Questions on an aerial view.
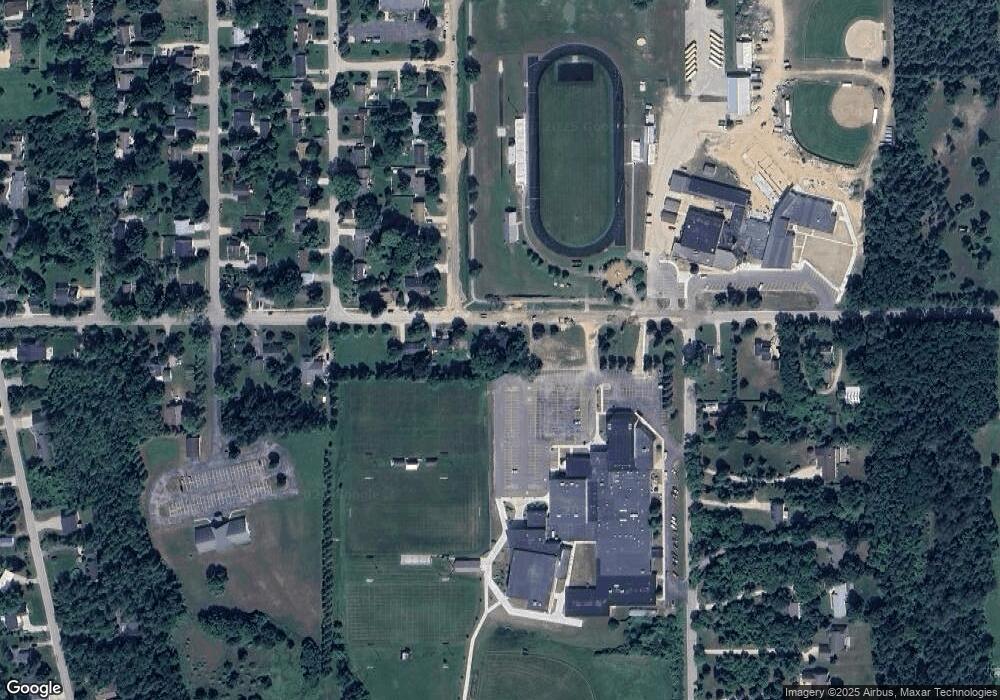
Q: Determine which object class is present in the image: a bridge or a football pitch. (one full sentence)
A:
The one in the frame is a football pitch.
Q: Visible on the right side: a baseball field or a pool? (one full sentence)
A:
You can see a baseball field on the right side.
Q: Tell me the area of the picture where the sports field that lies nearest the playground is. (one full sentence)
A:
The sports field that lies nearest the playground appears toward the top of the photo.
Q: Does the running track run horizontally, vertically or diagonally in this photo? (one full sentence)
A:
In this picture, the running track is oriented vertically.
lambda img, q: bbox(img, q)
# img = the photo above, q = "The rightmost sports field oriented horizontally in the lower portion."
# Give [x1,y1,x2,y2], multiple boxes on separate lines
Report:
[482,653,594,700]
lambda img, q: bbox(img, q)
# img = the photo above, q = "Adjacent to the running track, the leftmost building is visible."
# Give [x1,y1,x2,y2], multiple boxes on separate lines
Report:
[504,212,519,243]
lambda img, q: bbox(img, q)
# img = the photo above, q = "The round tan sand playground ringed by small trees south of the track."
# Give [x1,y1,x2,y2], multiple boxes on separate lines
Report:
[604,260,632,286]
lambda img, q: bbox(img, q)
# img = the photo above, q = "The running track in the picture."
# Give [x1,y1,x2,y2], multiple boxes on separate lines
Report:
[526,43,625,258]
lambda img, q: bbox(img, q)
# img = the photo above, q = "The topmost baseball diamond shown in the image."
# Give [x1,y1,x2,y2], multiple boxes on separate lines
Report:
[804,0,885,62]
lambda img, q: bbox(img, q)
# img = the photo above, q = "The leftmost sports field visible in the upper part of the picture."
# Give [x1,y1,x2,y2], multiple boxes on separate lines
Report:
[540,56,611,245]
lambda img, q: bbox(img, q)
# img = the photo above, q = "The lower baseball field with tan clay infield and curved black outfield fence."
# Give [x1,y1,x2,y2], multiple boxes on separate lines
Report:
[792,82,875,165]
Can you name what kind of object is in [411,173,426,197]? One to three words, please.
house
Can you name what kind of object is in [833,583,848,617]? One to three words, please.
barn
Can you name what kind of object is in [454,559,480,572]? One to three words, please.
building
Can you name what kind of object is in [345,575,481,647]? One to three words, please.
sports field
